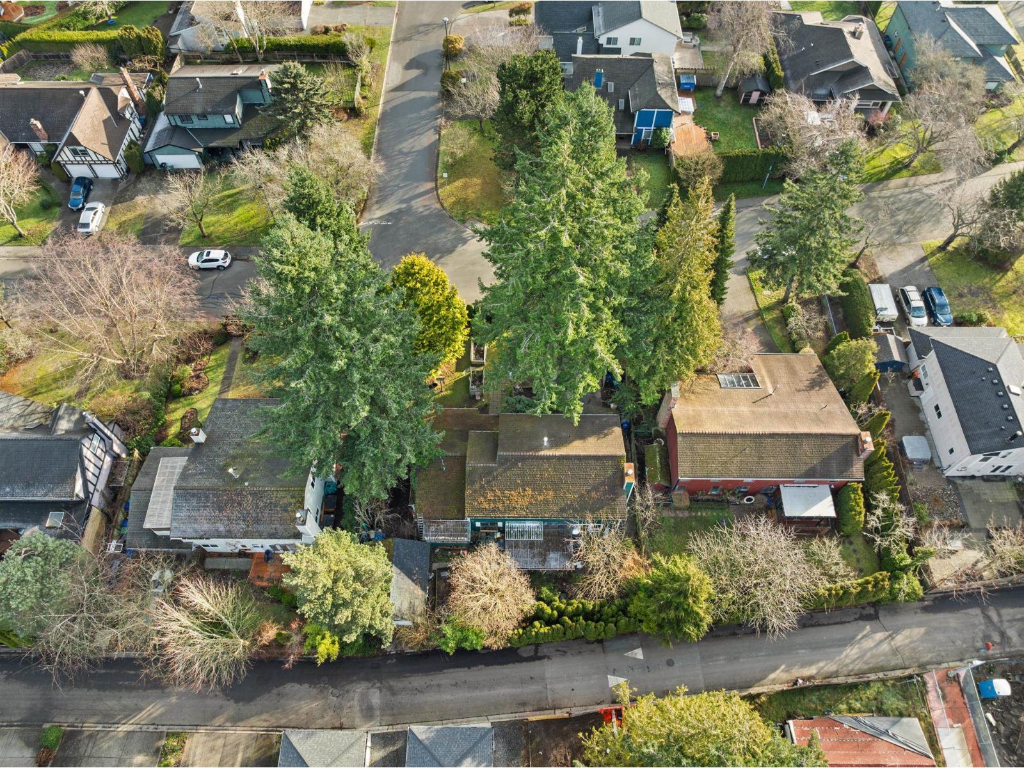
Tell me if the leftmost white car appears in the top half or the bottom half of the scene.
top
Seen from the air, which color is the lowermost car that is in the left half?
white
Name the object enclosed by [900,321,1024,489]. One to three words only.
house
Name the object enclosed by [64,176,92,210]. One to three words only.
car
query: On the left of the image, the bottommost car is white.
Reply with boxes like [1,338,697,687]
[186,249,232,272]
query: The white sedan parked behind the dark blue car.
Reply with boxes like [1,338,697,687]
[73,203,108,235]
